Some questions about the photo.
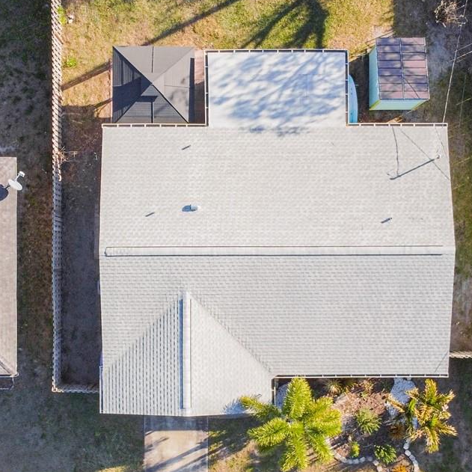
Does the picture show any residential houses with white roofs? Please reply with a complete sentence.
Yes, the image includes a residential house with a white roof.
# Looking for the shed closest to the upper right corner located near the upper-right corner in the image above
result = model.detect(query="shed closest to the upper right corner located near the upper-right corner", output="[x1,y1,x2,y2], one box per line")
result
[367,36,431,111]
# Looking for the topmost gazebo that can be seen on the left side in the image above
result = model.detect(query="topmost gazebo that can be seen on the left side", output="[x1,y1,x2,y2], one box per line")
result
[112,46,194,123]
